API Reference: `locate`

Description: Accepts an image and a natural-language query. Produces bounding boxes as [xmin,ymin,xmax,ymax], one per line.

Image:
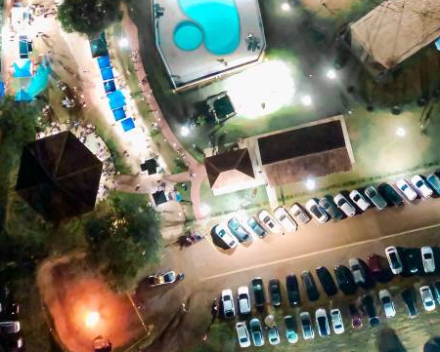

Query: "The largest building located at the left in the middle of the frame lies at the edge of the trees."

[16,131,104,222]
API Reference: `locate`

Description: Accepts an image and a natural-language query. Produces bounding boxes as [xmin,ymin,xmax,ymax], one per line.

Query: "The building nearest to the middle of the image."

[205,149,256,195]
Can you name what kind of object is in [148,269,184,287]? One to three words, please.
car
